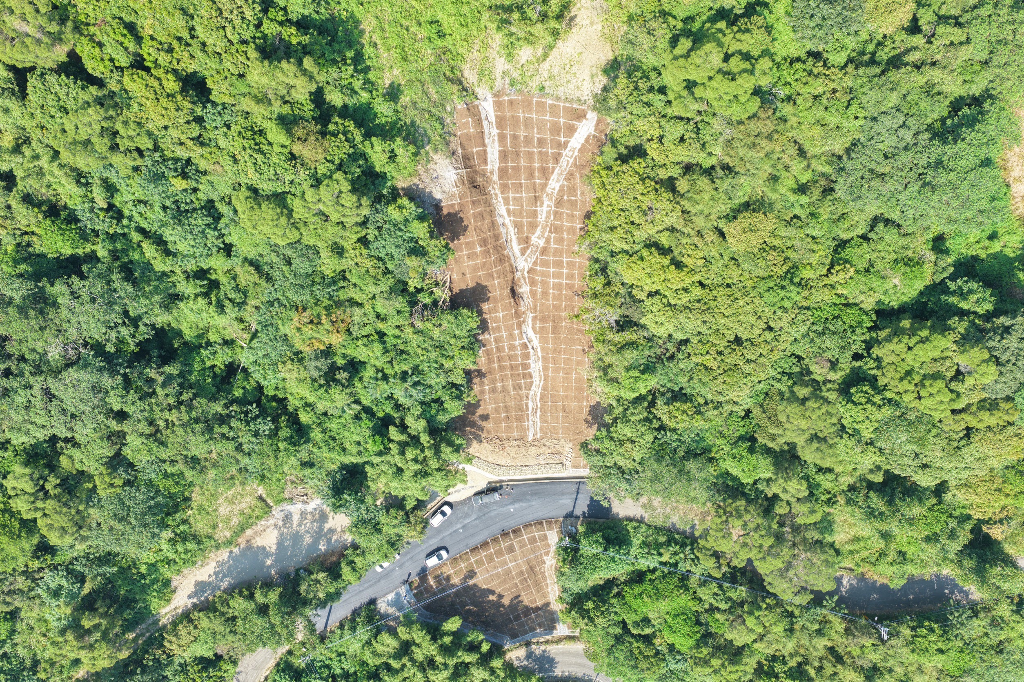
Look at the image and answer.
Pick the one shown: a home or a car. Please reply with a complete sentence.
The one in the frame is a car.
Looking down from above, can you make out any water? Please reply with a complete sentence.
No, water can't be seen anywhere here.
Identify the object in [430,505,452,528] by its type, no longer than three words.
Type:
car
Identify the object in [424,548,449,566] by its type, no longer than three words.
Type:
car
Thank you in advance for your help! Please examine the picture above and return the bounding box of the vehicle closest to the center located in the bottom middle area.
[471,491,499,506]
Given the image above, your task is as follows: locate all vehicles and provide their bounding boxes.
[471,491,499,506]
[430,505,452,528]
[376,552,401,572]
[424,548,449,566]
